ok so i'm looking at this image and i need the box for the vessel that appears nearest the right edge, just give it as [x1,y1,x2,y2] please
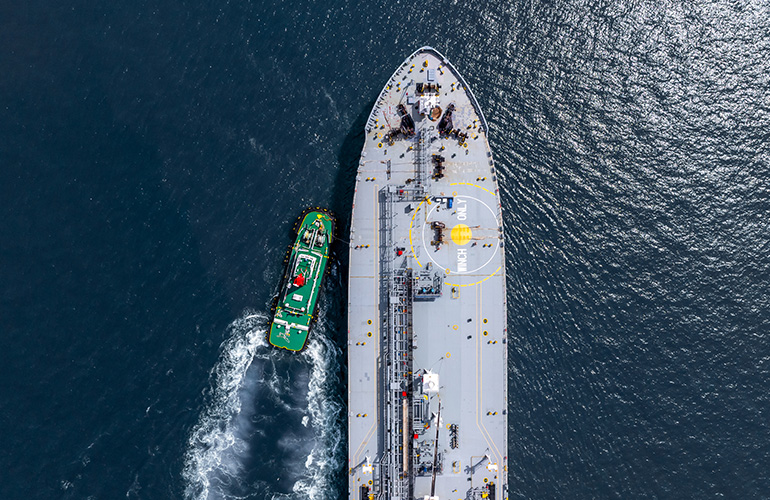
[347,46,508,500]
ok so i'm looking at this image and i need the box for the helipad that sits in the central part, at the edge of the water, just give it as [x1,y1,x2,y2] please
[410,183,502,286]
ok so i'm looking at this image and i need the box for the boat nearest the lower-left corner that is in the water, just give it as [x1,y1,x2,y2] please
[267,205,338,353]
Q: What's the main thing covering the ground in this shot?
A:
water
